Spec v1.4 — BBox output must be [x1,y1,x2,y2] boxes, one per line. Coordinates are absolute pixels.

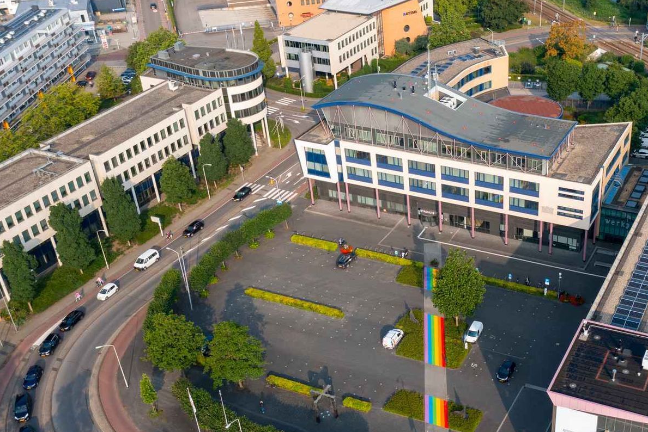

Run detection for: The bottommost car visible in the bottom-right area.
[497,356,518,379]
